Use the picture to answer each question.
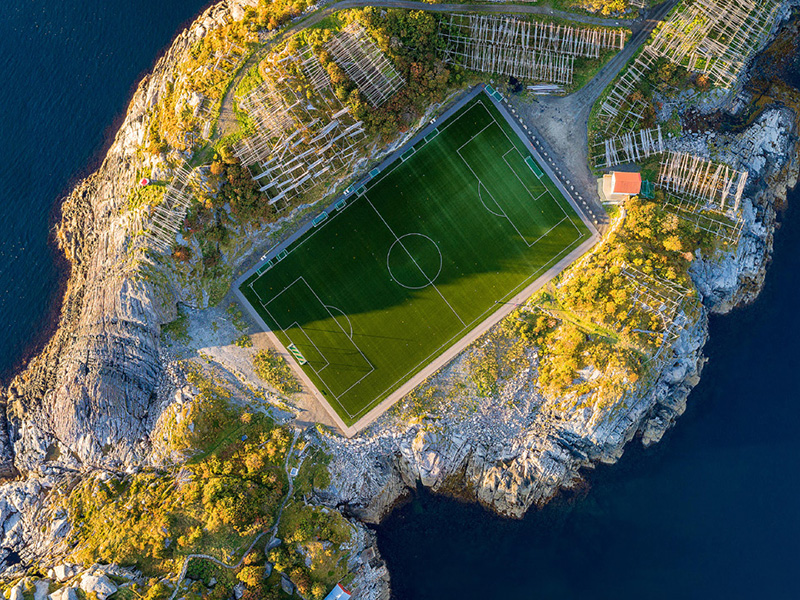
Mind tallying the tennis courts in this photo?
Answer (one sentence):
The count of tennis courts is 0.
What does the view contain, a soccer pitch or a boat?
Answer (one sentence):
Looking from above, you can make out a soccer pitch.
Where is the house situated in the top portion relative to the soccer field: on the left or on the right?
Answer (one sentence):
Looking at the picture, you'll find the house situated in the top portion to the right of the soccer field.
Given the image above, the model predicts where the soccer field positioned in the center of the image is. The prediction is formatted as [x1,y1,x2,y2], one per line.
[241,91,592,427]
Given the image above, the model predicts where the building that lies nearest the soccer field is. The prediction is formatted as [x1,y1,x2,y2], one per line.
[614,172,645,194]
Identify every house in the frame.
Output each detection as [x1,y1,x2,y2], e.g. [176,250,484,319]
[614,172,645,194]
[323,584,351,600]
